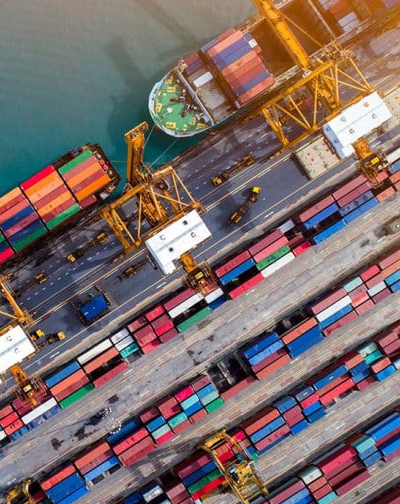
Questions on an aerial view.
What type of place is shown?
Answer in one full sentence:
The picture captures a port.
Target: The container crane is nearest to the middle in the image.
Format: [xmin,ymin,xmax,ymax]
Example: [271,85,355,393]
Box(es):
[80,114,216,294]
